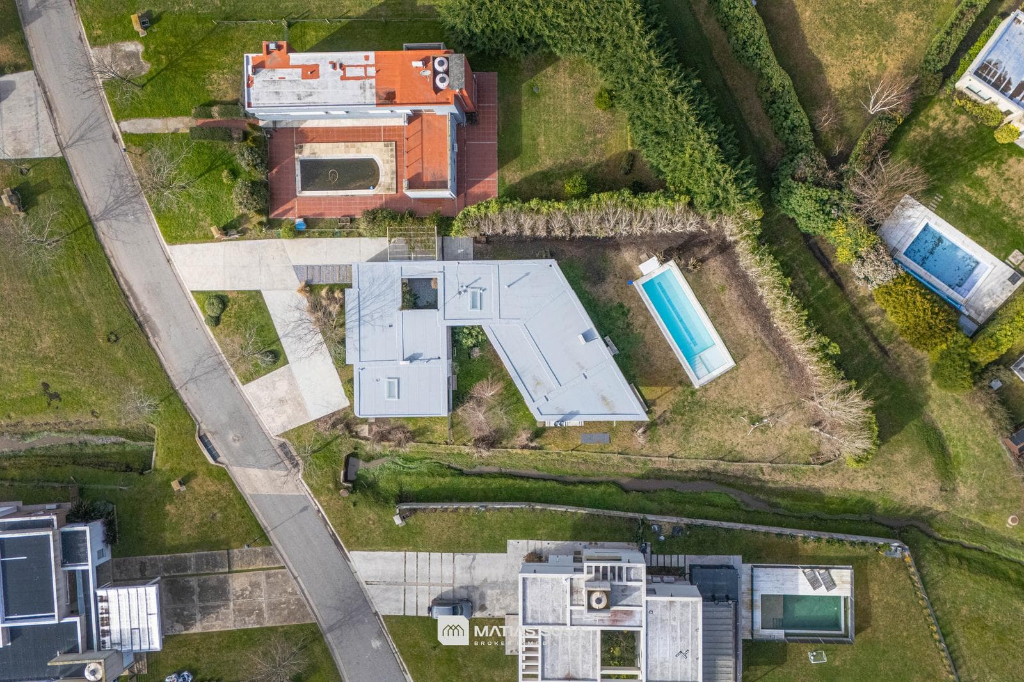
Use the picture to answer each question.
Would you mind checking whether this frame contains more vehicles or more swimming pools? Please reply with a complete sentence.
More swimming pools than vehicles appear in the image.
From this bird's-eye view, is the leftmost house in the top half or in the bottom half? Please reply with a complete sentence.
You can find the leftmost house in the bottom half.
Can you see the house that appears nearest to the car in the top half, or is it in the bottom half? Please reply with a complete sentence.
Seen from above, the house that appears nearest to the car lies in the bottom half of the view.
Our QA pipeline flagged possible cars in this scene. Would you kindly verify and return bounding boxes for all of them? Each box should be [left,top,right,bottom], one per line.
[425,598,472,623]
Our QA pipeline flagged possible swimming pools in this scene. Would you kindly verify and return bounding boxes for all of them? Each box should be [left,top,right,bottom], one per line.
[634,260,735,388]
[876,197,1024,324]
[295,142,396,194]
[752,566,850,638]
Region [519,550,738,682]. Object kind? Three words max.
house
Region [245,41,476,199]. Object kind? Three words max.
house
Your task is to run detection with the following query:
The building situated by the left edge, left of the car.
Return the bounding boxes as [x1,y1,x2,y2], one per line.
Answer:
[0,510,175,682]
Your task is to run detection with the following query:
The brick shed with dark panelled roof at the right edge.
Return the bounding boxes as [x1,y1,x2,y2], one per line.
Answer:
[994,422,1024,463]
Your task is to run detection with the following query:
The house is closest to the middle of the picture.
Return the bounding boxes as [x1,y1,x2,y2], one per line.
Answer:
[345,259,648,425]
